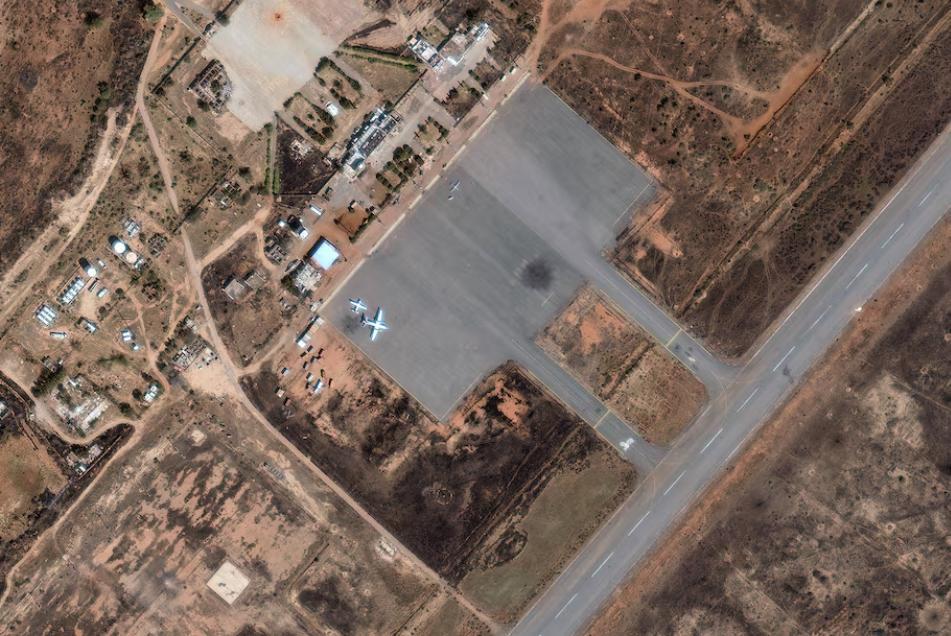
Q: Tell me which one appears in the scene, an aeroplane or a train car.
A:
aeroplane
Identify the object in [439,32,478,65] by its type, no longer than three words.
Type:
building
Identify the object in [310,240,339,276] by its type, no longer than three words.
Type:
hangar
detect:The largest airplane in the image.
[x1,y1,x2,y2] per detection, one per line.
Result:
[362,310,388,339]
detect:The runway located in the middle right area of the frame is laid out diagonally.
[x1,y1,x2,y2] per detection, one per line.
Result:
[508,134,951,636]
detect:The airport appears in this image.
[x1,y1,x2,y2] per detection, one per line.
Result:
[317,74,951,636]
